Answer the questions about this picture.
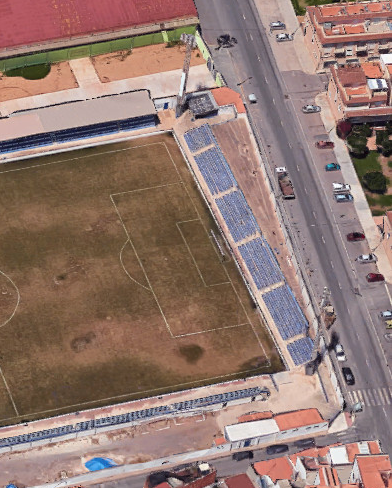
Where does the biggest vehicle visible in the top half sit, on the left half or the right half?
right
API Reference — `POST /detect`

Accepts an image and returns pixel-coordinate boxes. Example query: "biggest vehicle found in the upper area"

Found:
[276,166,296,198]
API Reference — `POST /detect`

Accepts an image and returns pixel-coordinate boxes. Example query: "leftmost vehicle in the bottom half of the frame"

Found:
[230,447,256,465]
